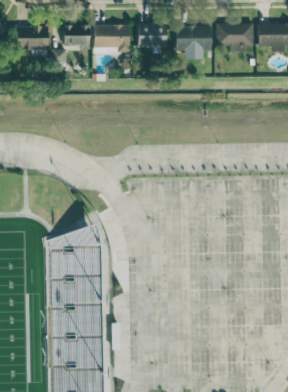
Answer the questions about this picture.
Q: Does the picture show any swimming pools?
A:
Yes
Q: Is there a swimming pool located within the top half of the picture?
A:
Yes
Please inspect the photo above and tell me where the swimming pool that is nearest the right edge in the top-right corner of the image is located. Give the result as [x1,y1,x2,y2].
[267,52,288,72]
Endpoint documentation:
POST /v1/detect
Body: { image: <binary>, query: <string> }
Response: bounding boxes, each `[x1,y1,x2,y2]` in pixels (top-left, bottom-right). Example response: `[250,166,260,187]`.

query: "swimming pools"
[94,54,120,74]
[267,52,288,72]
